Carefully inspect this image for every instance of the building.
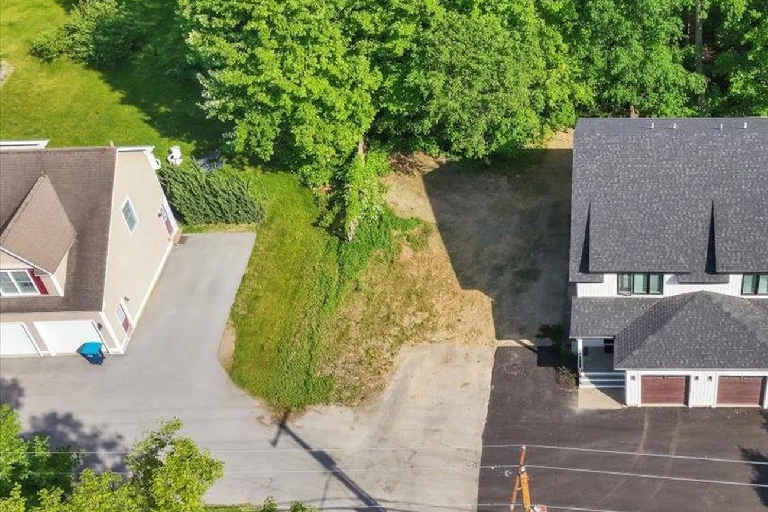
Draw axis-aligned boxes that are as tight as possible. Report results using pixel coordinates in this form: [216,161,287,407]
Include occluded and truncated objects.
[0,139,193,358]
[569,115,768,411]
